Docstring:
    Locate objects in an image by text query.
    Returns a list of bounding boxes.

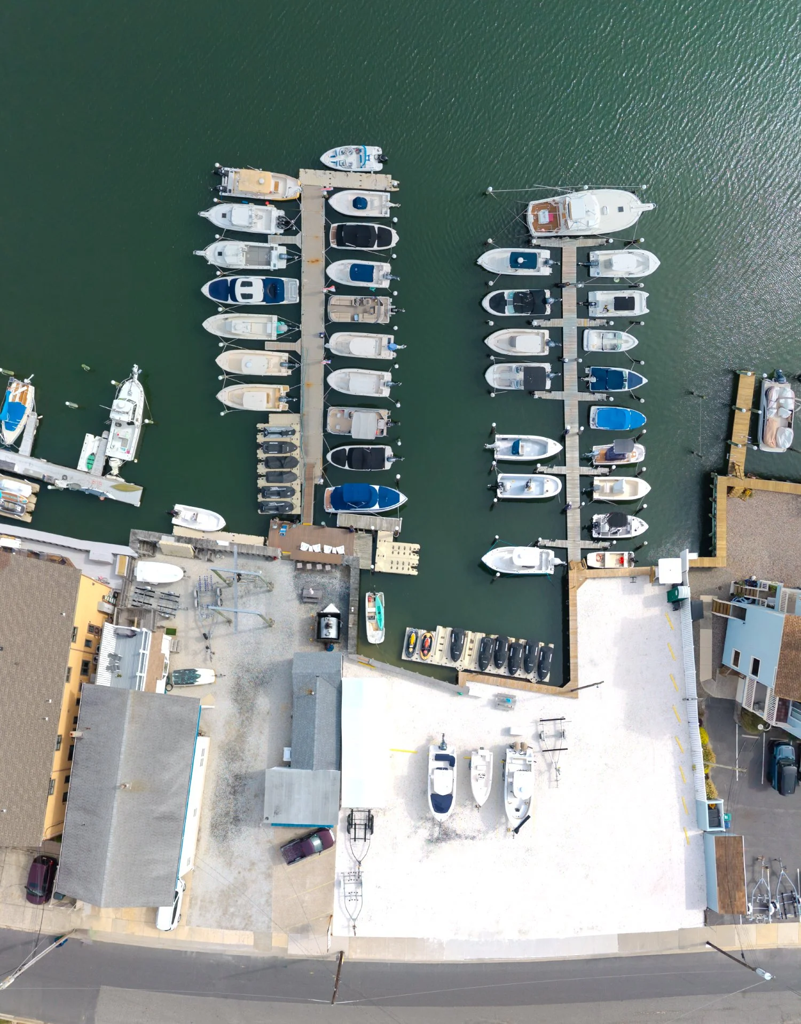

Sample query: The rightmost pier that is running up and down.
[723,372,755,476]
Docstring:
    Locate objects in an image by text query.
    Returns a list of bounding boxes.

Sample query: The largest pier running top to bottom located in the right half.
[533,238,610,563]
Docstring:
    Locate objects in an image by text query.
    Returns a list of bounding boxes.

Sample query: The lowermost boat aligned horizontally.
[172,668,216,686]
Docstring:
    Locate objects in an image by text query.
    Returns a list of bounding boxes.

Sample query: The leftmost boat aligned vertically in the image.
[0,369,38,444]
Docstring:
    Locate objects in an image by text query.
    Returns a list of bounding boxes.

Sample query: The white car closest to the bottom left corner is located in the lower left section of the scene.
[156,877,190,934]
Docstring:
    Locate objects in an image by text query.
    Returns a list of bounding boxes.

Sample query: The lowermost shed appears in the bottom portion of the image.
[703,827,748,915]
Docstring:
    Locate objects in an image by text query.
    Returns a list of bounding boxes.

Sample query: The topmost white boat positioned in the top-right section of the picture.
[522,178,655,237]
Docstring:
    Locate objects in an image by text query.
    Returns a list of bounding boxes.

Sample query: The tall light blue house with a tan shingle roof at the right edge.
[709,580,801,744]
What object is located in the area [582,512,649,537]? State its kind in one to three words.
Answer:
boat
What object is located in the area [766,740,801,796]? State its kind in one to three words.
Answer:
car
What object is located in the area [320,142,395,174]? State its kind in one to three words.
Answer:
boat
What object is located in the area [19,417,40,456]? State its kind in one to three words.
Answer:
pier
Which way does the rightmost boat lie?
up and down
